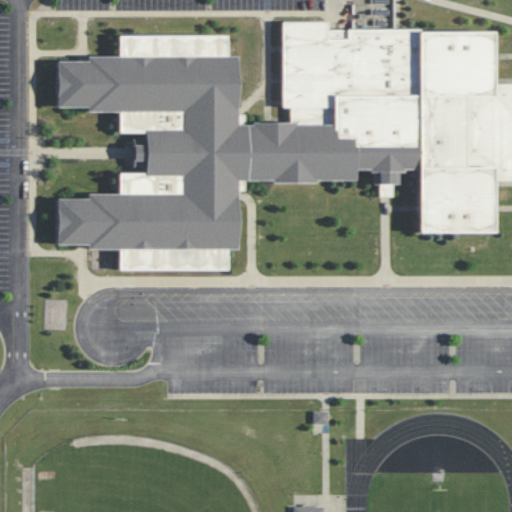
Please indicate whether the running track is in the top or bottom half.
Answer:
bottom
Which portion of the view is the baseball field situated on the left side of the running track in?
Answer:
bottom left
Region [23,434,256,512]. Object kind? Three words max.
baseball field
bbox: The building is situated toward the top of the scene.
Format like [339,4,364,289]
[58,22,512,272]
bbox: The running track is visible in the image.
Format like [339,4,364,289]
[346,412,512,512]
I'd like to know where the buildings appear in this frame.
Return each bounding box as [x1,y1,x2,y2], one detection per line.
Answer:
[314,411,329,432]
[293,507,324,512]
[58,22,512,272]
